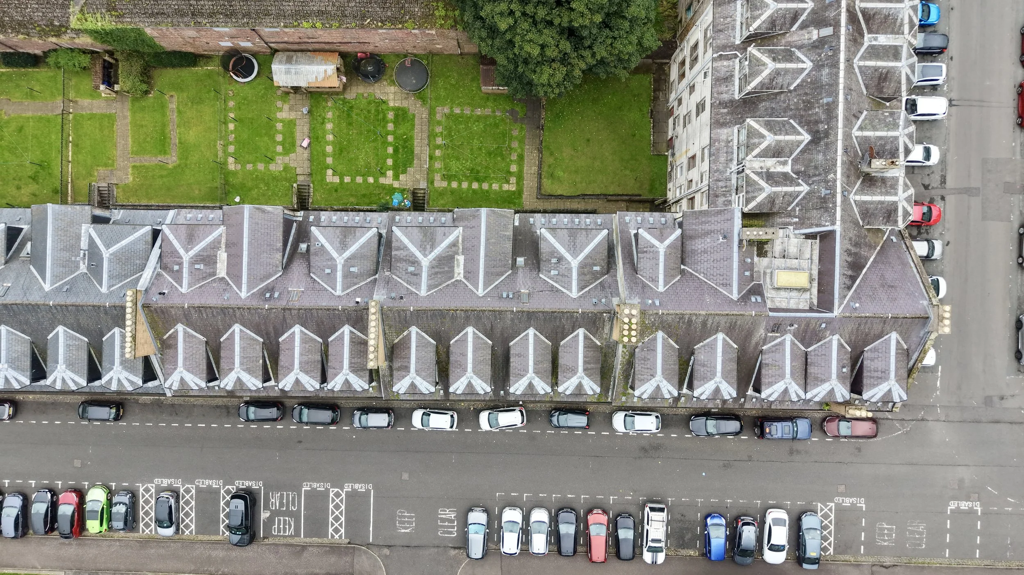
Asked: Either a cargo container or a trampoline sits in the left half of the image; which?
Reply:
trampoline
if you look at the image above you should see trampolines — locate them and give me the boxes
[352,51,390,83]
[220,46,258,83]
[393,57,430,93]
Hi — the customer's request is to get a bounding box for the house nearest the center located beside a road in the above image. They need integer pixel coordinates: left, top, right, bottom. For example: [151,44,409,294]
[380,209,619,409]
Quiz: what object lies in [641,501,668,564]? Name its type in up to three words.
truck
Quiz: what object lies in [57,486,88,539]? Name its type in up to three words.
car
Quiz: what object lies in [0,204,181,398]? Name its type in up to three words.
house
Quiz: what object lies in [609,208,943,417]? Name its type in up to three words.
building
